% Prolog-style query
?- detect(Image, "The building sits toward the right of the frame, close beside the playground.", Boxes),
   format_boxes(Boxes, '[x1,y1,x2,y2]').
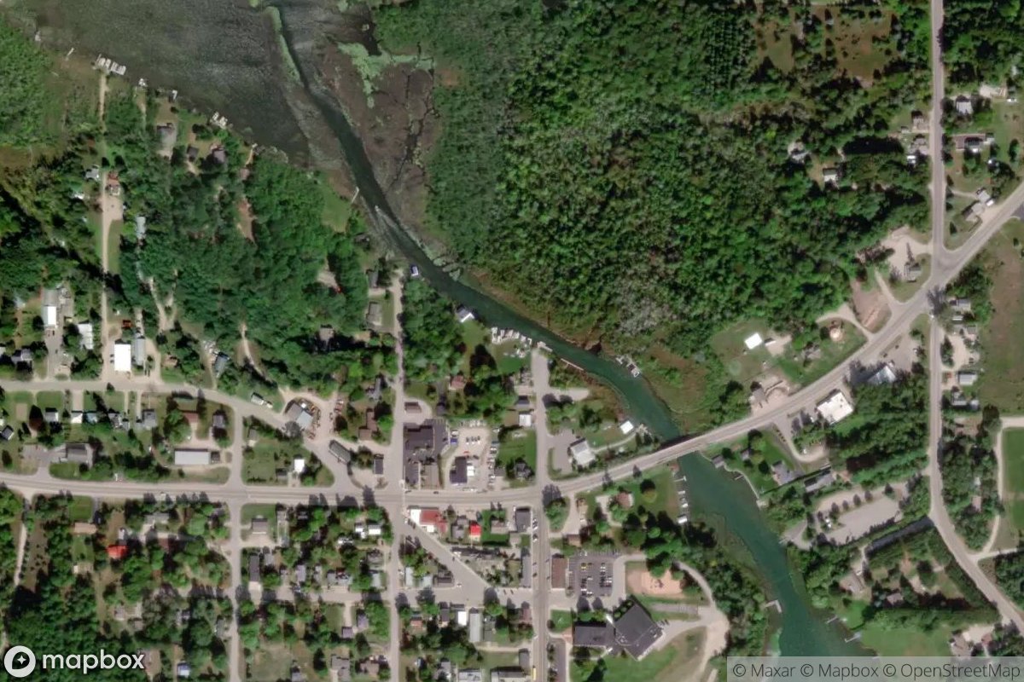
[572,605,661,658]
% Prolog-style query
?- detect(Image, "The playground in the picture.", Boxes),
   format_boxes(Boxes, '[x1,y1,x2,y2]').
[628,569,684,595]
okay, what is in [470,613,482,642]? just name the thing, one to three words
building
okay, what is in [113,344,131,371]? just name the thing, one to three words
building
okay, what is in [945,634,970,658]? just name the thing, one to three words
house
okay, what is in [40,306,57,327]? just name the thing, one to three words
barn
